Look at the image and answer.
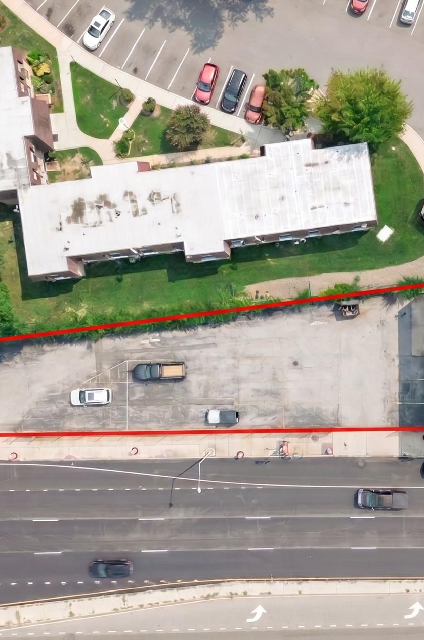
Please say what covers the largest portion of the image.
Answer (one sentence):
What you mostly see from above here is paved ground.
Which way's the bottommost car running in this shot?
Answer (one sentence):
The bottommost car is oriented horizontally.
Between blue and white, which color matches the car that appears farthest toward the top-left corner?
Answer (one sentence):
In this view, the car that appears farthest toward the top-left corner is white.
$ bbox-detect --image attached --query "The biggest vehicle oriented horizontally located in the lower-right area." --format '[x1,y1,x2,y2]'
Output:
[357,488,410,512]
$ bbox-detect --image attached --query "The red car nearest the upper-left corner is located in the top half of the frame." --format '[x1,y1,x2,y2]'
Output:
[194,61,221,105]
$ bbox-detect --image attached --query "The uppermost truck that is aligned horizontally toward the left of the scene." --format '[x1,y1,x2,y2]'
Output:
[132,360,188,382]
